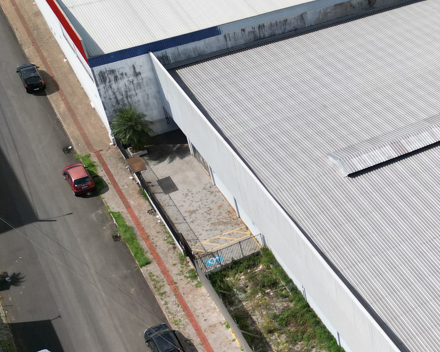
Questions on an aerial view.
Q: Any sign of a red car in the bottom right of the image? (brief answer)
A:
No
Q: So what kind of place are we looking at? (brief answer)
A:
industrial area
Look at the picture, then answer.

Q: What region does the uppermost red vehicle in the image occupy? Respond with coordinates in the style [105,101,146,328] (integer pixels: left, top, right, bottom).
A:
[61,163,95,195]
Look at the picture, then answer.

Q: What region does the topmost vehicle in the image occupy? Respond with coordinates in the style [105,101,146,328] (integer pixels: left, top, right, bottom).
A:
[18,68,47,91]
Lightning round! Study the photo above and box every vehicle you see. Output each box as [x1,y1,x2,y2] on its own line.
[18,68,47,91]
[61,163,95,195]
[143,326,182,352]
